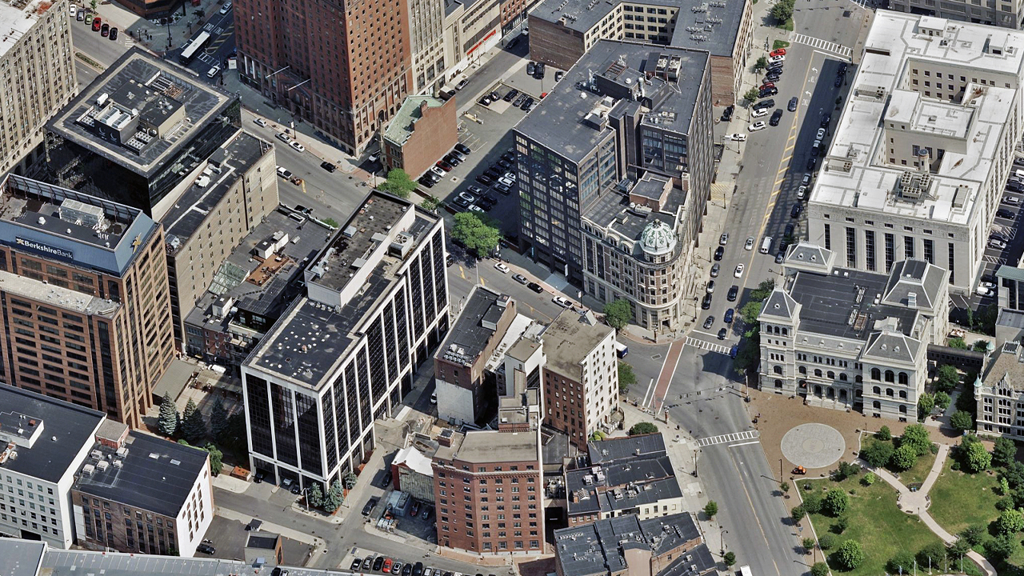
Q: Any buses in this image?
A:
Yes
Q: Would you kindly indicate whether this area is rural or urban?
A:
urban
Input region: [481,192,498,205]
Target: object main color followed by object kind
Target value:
black vehicle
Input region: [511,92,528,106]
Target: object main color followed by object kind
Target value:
gray vehicle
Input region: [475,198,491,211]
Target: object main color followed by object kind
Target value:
black vehicle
